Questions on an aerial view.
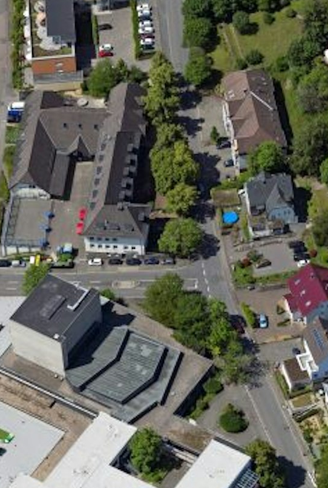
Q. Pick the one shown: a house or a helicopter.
house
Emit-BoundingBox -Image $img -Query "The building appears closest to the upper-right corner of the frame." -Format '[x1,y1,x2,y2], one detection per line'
[226,70,287,176]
